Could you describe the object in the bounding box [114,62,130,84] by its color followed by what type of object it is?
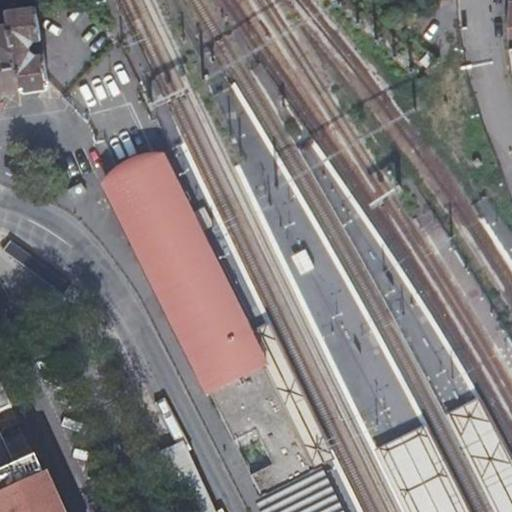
white car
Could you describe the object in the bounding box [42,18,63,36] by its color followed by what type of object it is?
white car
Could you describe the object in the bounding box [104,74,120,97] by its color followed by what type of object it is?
white vehicle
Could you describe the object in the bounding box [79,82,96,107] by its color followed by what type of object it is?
white vehicle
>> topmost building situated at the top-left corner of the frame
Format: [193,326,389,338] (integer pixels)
[0,5,48,97]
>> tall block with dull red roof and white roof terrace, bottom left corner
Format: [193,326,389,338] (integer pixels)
[0,449,72,512]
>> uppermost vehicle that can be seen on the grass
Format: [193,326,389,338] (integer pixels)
[422,20,440,41]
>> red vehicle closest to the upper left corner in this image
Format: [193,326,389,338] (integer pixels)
[89,148,102,168]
